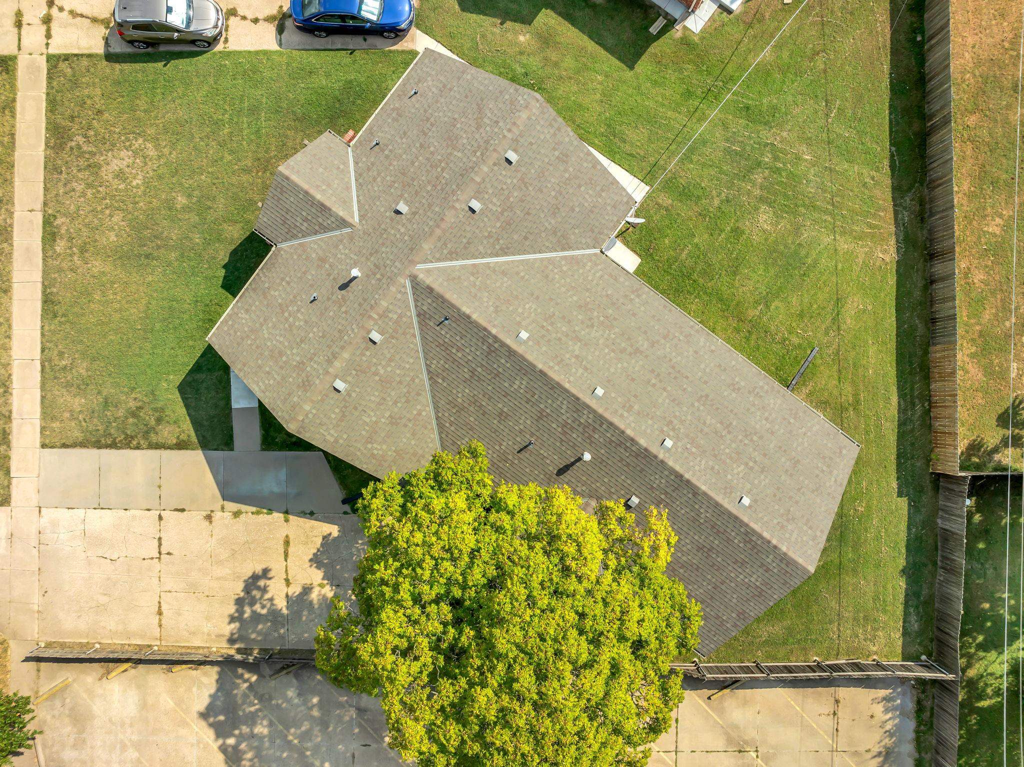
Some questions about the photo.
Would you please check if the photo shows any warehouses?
No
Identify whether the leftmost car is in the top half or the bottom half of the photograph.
top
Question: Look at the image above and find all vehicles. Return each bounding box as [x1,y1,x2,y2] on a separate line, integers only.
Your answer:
[112,0,228,48]
[291,0,416,39]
